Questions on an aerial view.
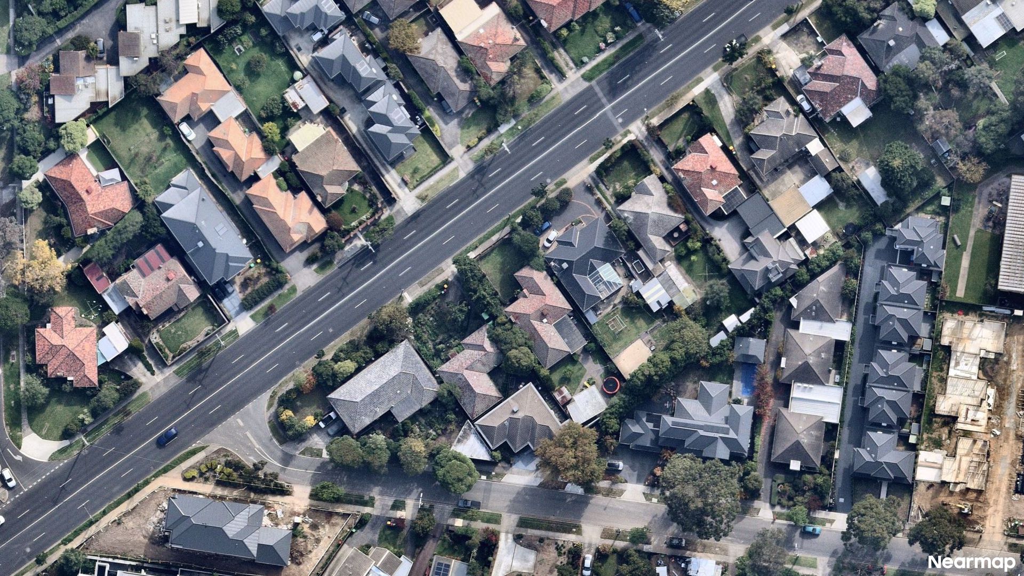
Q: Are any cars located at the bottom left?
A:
Yes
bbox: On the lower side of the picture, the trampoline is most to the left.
[602,377,619,394]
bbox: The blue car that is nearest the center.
[534,220,553,235]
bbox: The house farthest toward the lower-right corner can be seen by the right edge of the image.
[917,437,992,491]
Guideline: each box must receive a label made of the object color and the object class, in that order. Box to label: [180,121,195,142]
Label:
white car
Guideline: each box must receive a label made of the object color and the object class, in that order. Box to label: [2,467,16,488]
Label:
white car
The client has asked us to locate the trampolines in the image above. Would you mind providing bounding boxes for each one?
[602,377,619,394]
[843,221,858,236]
